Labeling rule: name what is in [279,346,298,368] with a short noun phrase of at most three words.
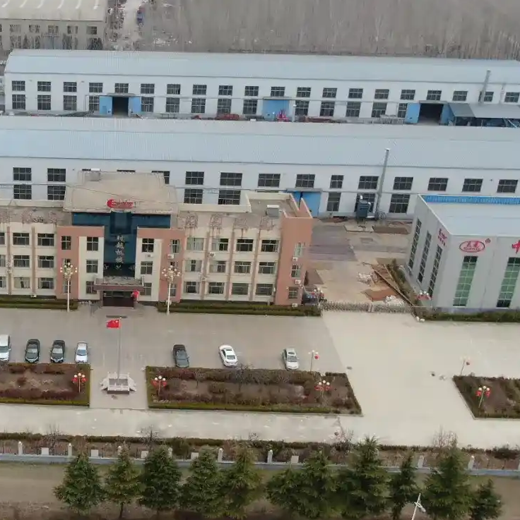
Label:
car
